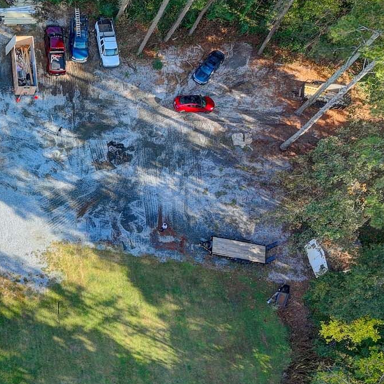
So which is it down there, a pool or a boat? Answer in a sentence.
It is a boat that can be seen here.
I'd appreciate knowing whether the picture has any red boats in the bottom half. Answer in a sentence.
No, no red boat is visible in the bottom half.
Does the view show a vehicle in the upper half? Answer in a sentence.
Yes, a vehicle can be seen in the upper half.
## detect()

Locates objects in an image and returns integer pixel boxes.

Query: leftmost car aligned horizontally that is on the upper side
[171,93,215,115]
